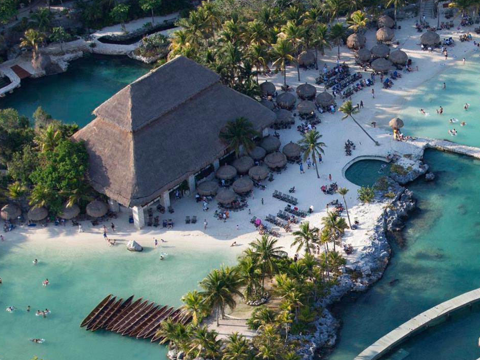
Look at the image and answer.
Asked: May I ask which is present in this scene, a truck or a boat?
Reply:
boat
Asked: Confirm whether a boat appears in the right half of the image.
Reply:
No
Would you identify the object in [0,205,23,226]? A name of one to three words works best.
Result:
umbrella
